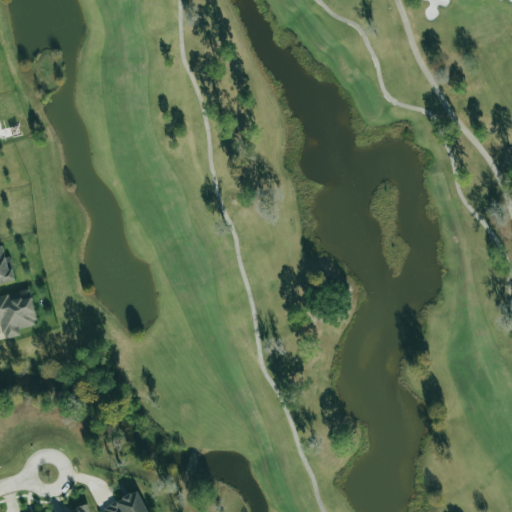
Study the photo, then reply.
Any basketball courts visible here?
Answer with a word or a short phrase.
No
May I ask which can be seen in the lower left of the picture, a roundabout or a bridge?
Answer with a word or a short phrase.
roundabout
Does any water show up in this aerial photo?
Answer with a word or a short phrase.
Yes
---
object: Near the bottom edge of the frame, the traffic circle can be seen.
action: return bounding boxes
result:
[12,448,74,498]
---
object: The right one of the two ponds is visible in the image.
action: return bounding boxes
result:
[178,448,268,512]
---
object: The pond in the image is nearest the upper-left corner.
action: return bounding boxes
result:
[10,0,158,334]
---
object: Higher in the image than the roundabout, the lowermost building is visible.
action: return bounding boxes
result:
[0,294,36,338]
